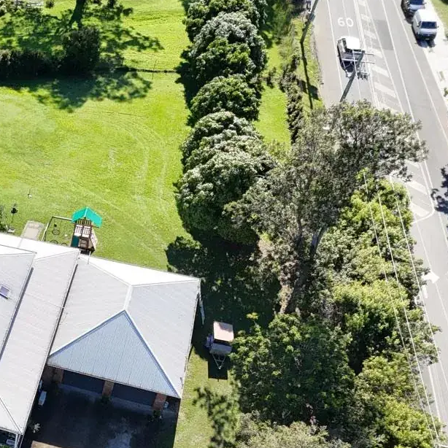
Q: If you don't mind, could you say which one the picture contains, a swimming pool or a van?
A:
van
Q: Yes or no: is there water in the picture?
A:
No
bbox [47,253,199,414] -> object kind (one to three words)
building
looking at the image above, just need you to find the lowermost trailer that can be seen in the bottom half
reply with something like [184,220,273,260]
[199,315,237,372]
